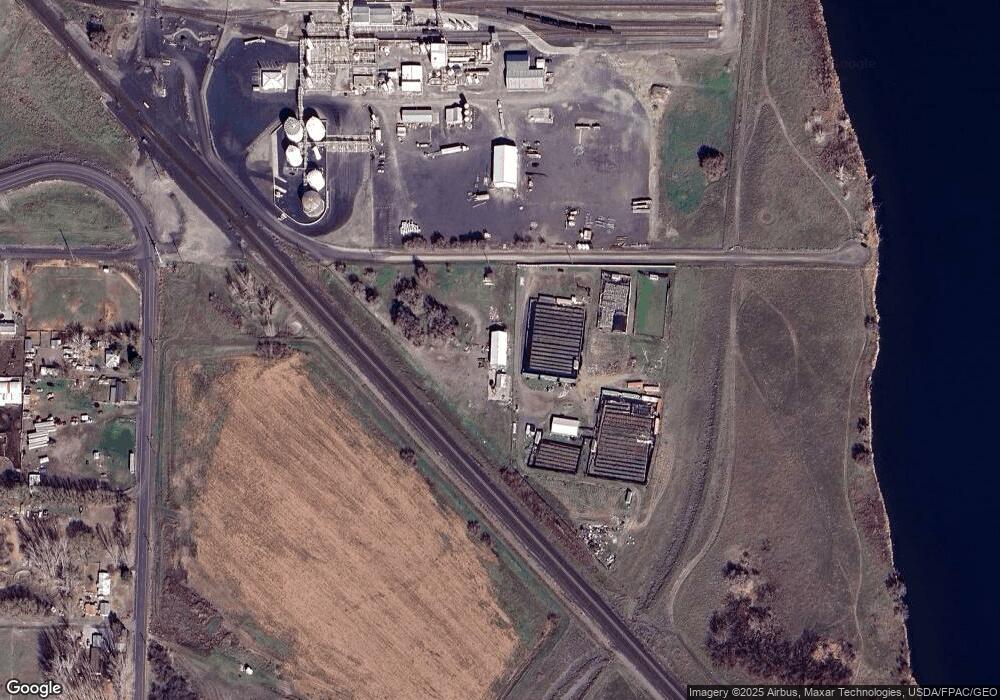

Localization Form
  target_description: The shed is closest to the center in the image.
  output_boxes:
[490,331,509,368]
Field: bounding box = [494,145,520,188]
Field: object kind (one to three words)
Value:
building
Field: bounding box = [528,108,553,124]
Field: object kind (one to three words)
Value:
shed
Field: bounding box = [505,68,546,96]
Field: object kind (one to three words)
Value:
building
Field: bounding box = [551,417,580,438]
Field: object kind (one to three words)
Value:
barn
